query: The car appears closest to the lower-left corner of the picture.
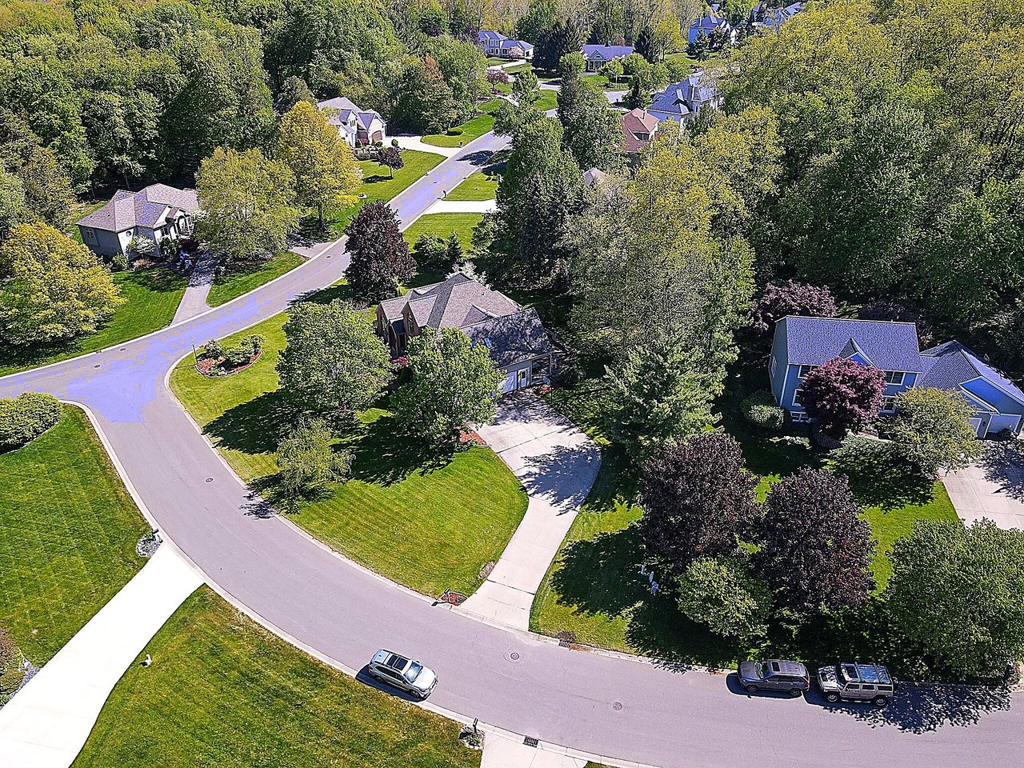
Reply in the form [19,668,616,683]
[368,646,439,696]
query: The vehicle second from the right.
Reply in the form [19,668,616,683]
[735,657,815,697]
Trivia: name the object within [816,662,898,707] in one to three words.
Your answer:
car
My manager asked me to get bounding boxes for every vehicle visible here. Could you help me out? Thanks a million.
[735,657,815,697]
[816,662,898,707]
[368,646,439,696]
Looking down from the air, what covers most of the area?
trees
